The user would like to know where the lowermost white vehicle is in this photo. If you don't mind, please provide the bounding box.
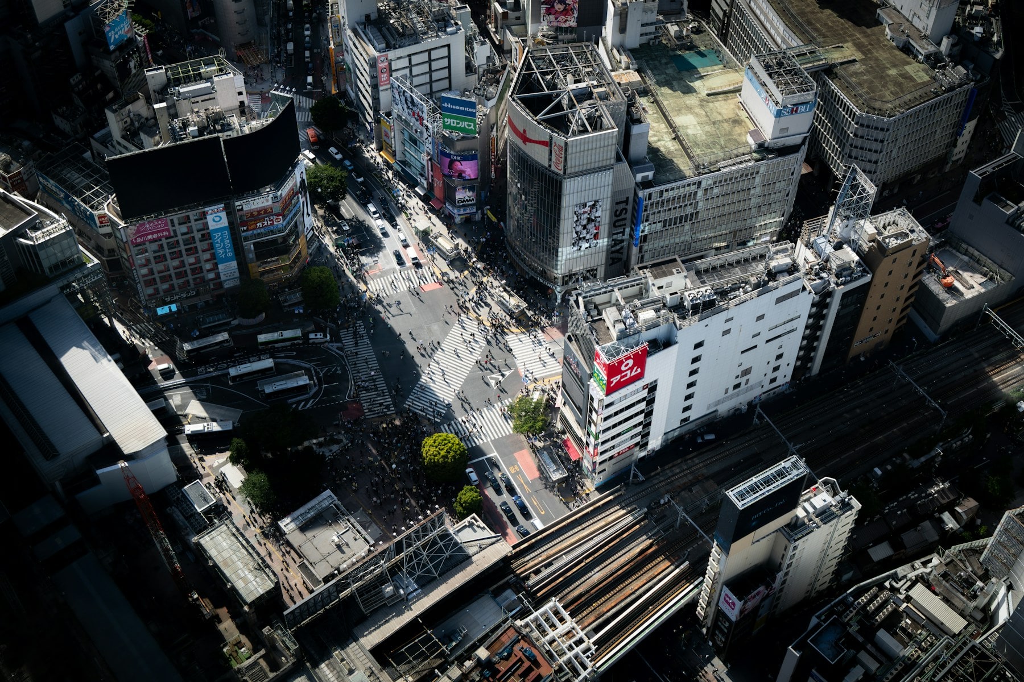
[530,516,545,530]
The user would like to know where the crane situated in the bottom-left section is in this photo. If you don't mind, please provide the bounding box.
[117,462,221,634]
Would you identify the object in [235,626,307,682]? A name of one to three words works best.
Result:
building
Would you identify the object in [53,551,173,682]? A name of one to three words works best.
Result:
shed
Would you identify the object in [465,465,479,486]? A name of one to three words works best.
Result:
car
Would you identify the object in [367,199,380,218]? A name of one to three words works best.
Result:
vehicle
